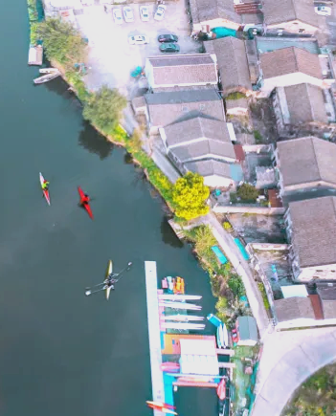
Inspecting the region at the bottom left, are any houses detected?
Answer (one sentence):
No, no house is visible at the bottom left.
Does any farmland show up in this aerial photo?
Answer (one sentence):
No, there's no farmland in this view.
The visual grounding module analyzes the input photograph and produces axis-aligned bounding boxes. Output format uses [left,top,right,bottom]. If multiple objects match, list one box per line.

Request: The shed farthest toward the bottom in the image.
[234,315,260,346]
